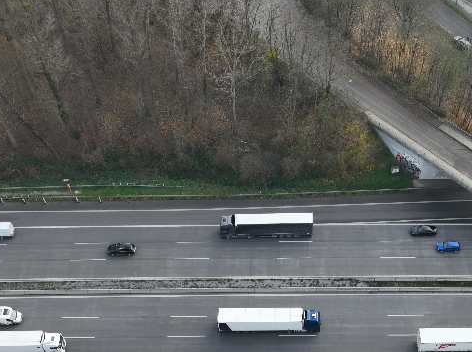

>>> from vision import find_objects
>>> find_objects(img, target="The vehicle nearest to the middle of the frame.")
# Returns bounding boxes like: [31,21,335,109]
[219,212,313,238]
